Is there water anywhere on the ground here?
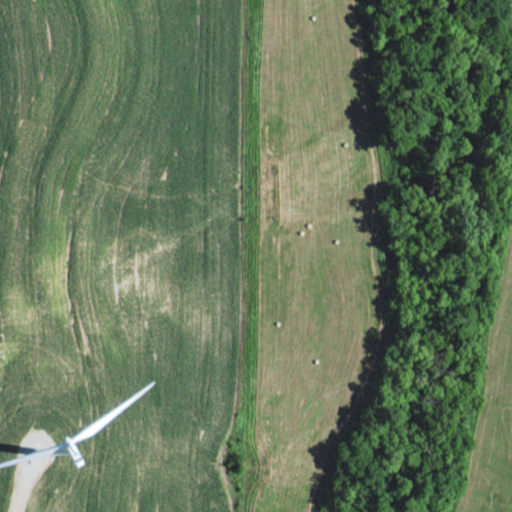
No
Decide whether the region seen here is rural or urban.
rural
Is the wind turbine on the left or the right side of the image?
left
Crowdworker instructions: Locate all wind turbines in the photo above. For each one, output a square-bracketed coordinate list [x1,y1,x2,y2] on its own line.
[0,381,153,473]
